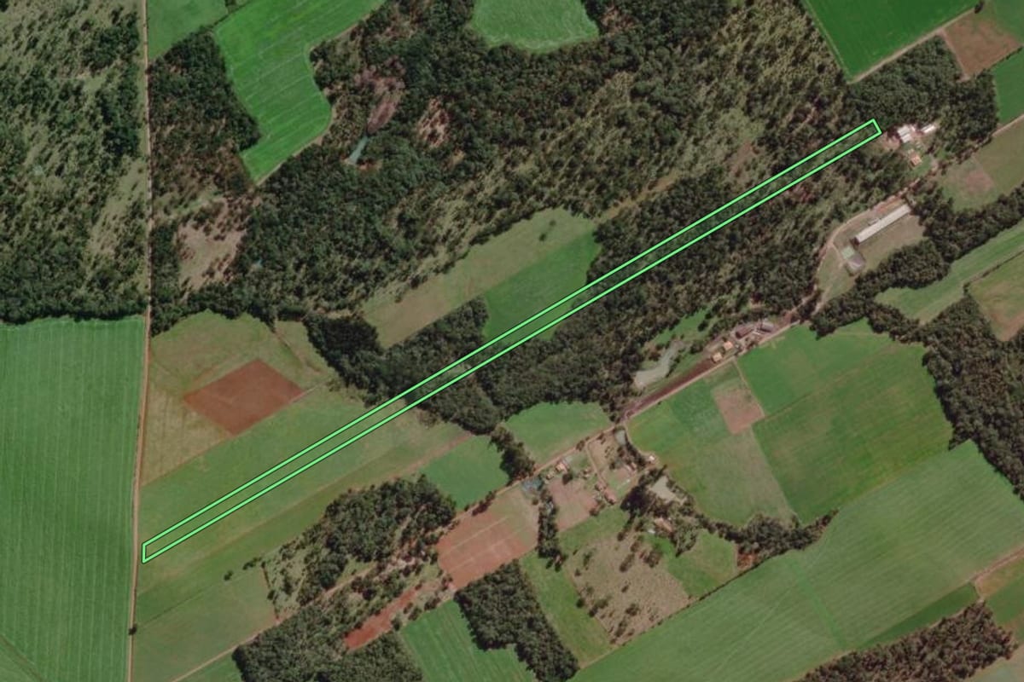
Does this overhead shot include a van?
No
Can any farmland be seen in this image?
Yes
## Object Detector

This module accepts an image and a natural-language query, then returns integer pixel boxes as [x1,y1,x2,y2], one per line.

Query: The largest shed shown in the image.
[857,204,912,242]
